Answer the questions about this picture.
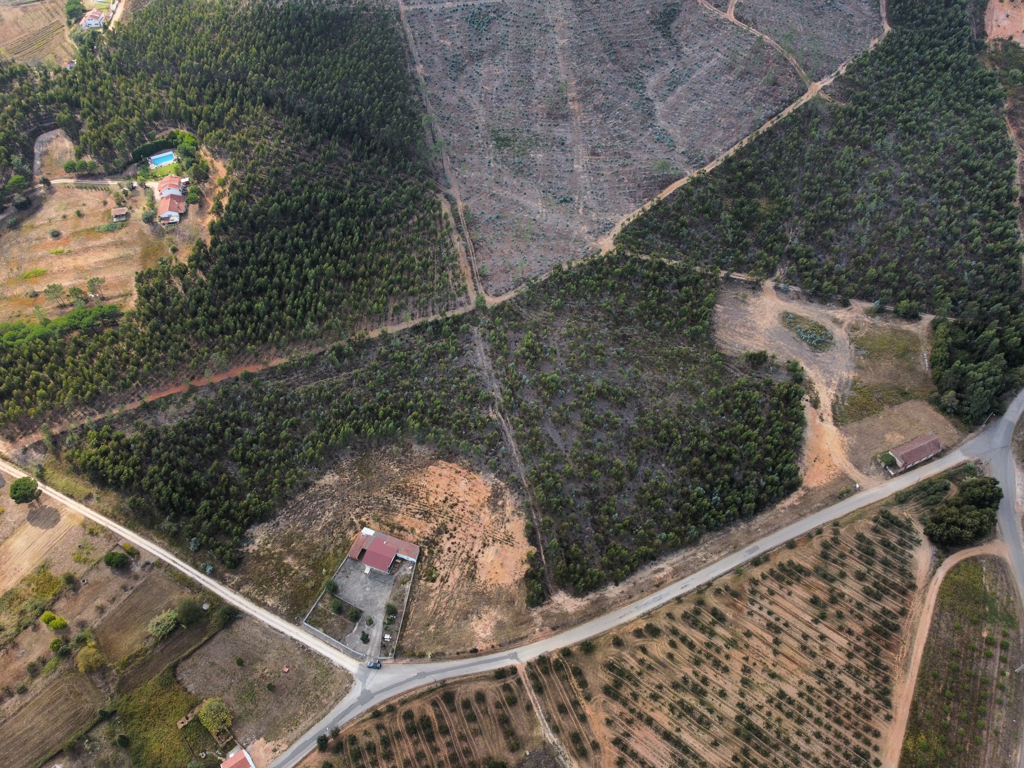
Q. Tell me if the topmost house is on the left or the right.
left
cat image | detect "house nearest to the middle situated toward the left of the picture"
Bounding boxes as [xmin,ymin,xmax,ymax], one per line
[347,527,421,575]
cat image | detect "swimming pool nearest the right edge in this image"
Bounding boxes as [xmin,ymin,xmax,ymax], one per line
[152,153,175,165]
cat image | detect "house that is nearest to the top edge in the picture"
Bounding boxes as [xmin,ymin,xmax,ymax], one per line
[80,8,114,28]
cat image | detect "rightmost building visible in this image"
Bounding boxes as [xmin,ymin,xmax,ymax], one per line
[876,435,942,476]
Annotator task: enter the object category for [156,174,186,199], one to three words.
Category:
house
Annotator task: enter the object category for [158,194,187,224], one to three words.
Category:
house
